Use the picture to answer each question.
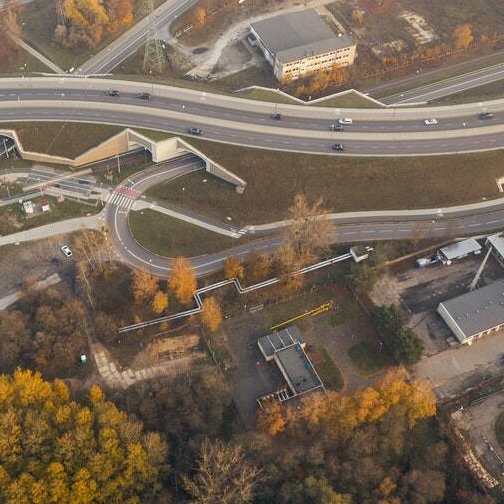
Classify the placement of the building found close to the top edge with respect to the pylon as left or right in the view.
to its right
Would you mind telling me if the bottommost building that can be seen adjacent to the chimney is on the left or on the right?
right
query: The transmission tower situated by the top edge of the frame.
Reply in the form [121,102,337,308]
[144,0,168,75]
